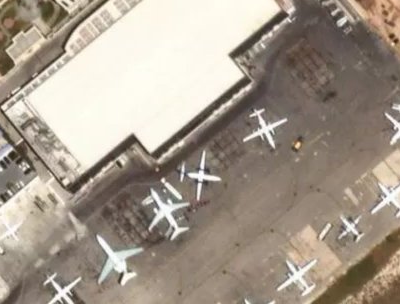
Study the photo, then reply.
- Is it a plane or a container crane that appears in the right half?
plane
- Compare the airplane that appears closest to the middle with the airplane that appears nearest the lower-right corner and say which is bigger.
the airplane that appears closest to the middle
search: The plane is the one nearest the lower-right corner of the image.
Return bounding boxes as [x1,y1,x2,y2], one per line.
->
[337,216,364,242]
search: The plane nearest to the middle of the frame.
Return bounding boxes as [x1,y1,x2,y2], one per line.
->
[179,152,222,201]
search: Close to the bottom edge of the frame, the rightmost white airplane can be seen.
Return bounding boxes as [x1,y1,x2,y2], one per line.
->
[276,259,318,296]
